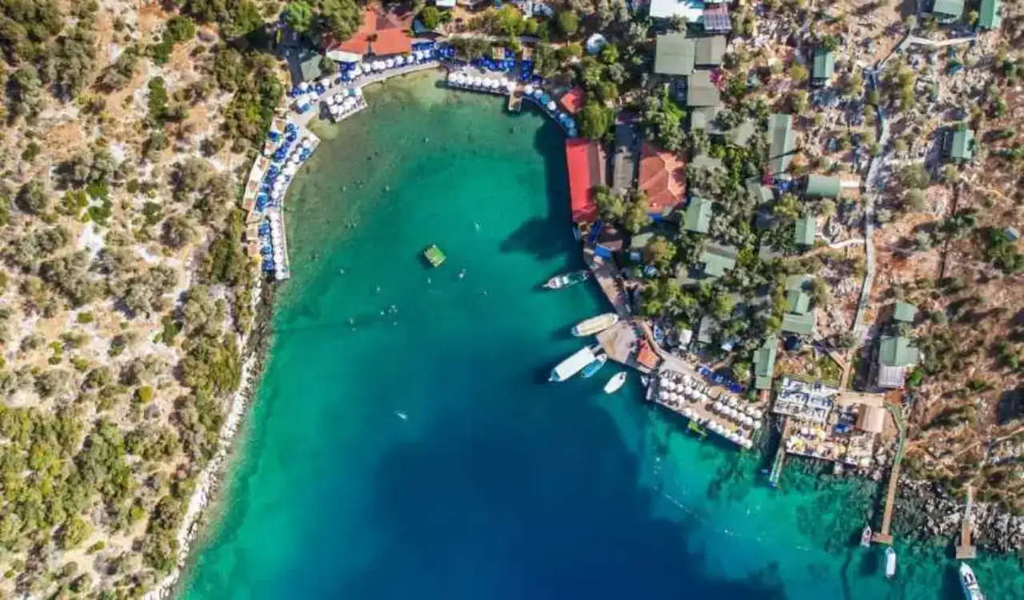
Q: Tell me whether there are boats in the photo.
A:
Yes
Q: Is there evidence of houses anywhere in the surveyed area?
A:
Yes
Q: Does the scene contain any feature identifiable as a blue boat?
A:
Yes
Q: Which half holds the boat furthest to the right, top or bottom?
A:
bottom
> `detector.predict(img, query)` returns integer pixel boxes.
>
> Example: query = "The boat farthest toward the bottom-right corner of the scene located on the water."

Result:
[962,564,989,600]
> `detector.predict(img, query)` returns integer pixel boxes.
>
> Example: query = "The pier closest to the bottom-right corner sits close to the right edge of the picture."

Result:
[953,521,976,558]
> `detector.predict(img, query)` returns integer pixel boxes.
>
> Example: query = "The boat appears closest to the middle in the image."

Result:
[544,271,590,286]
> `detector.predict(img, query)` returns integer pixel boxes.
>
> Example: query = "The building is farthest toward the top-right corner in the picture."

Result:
[968,0,1001,34]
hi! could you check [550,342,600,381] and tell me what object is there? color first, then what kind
white boat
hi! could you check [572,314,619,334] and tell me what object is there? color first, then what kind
white boat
